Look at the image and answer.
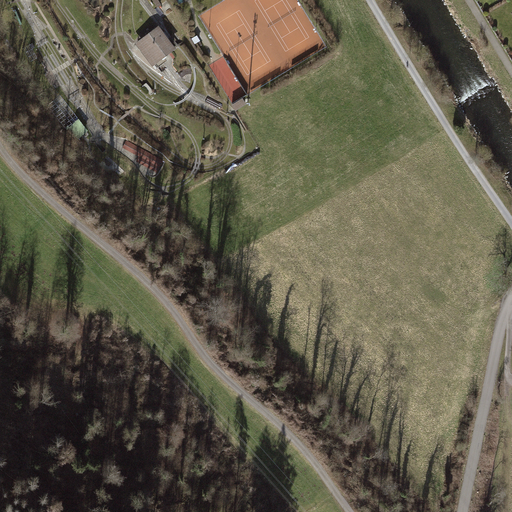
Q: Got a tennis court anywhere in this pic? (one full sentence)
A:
Yes, looking at the shot, I can spot a tennis court.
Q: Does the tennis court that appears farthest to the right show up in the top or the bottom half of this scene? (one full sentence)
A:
The tennis court that appears farthest to the right is in the top half of the image.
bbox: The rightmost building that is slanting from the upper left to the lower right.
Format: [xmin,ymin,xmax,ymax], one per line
[209,56,246,102]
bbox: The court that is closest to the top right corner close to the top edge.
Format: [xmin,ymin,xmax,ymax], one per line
[246,0,325,70]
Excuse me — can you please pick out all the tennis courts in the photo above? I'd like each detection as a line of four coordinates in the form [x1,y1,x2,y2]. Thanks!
[246,0,325,70]
[200,0,288,93]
